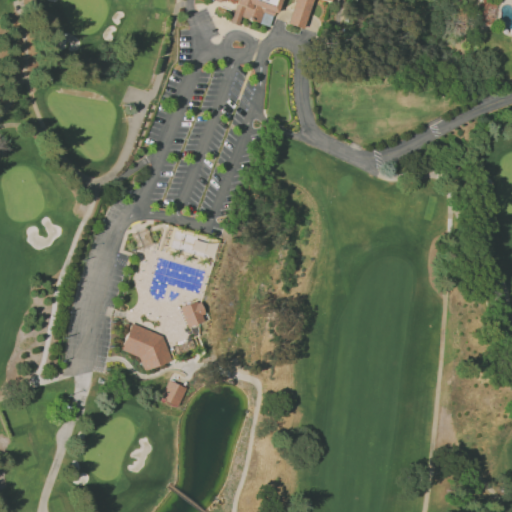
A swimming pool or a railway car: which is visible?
swimming pool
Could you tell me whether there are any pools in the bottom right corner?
No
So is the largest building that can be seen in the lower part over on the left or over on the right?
left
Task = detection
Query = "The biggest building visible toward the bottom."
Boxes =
[124,324,173,371]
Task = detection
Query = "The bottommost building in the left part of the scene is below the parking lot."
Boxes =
[164,382,188,407]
